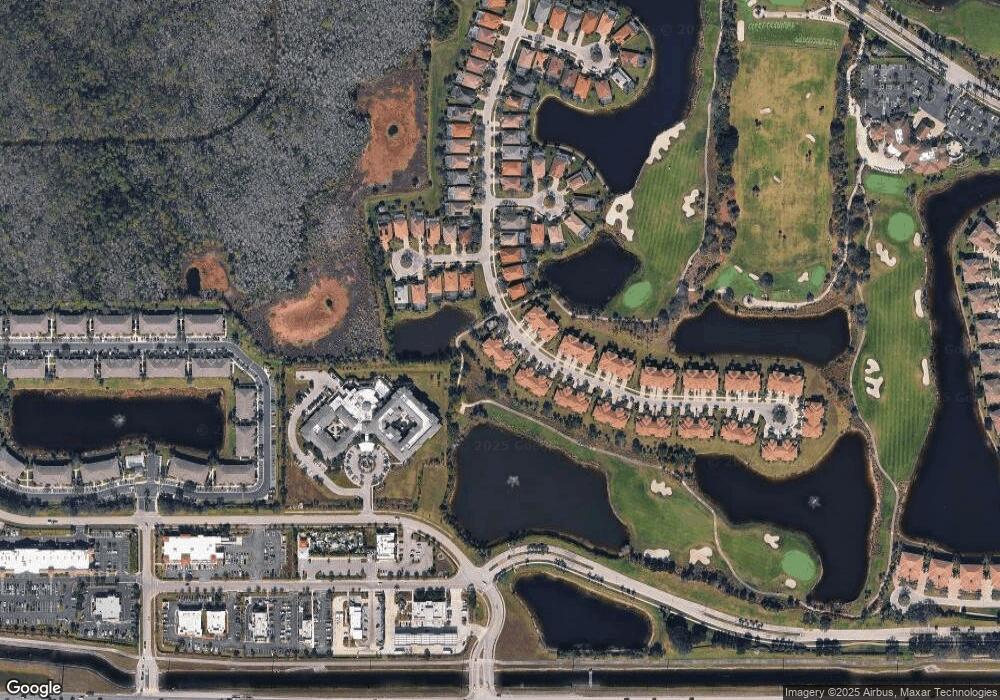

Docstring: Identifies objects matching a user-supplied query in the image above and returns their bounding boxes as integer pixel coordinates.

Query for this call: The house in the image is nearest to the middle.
[482,337,519,370]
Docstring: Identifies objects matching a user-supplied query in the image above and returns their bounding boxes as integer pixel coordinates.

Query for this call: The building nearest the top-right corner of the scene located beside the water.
[870,119,962,172]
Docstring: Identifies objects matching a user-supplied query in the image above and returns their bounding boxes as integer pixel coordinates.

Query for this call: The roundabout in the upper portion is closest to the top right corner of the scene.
[581,39,616,73]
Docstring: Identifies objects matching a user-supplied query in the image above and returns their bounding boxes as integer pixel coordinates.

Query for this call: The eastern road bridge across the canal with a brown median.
[469,666,494,691]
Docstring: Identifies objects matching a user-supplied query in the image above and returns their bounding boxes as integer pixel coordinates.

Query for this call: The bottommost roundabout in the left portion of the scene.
[342,441,391,488]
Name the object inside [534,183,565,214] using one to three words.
roundabout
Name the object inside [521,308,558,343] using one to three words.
house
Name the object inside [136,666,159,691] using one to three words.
bridge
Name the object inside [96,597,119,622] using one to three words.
building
